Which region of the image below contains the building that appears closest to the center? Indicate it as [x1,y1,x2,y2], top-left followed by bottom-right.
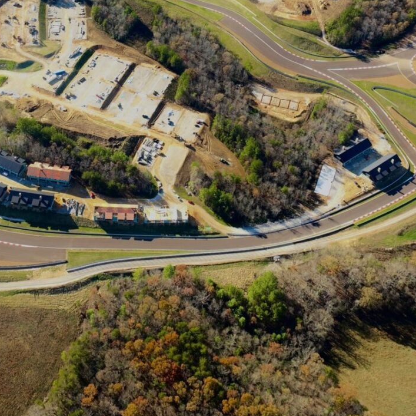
[143,207,188,228]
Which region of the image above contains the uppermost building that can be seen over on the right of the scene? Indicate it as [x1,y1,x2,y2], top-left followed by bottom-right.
[329,137,373,170]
